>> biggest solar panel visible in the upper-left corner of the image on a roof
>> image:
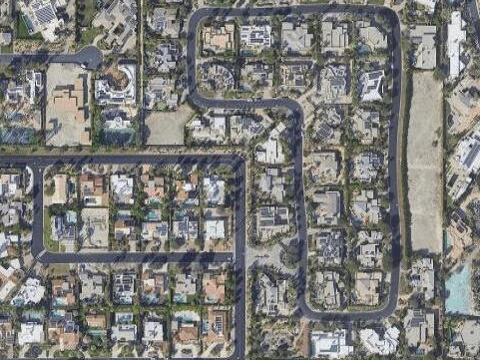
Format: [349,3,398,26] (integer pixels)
[32,3,56,23]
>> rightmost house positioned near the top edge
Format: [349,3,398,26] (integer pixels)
[445,10,466,78]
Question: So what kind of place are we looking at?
residential area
